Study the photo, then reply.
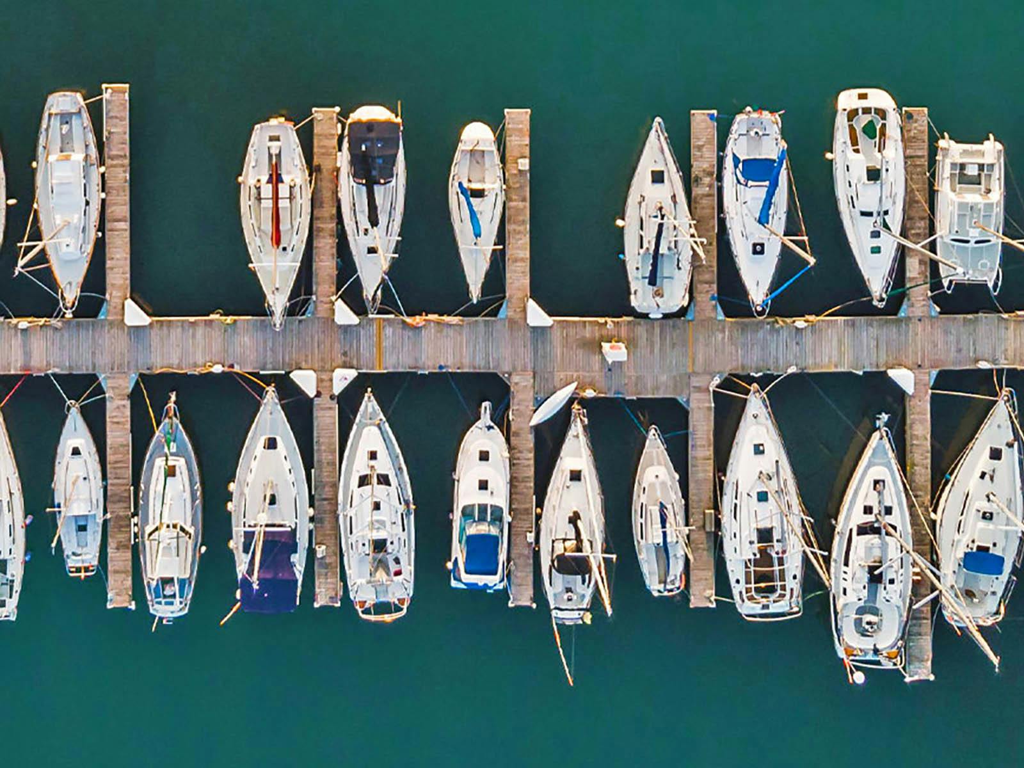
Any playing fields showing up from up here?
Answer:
No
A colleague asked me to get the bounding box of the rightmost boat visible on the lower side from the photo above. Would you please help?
[936,398,1024,635]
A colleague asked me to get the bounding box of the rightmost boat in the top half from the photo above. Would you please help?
[931,134,1024,294]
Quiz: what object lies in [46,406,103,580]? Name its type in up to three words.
boat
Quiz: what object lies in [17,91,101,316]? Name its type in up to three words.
boat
